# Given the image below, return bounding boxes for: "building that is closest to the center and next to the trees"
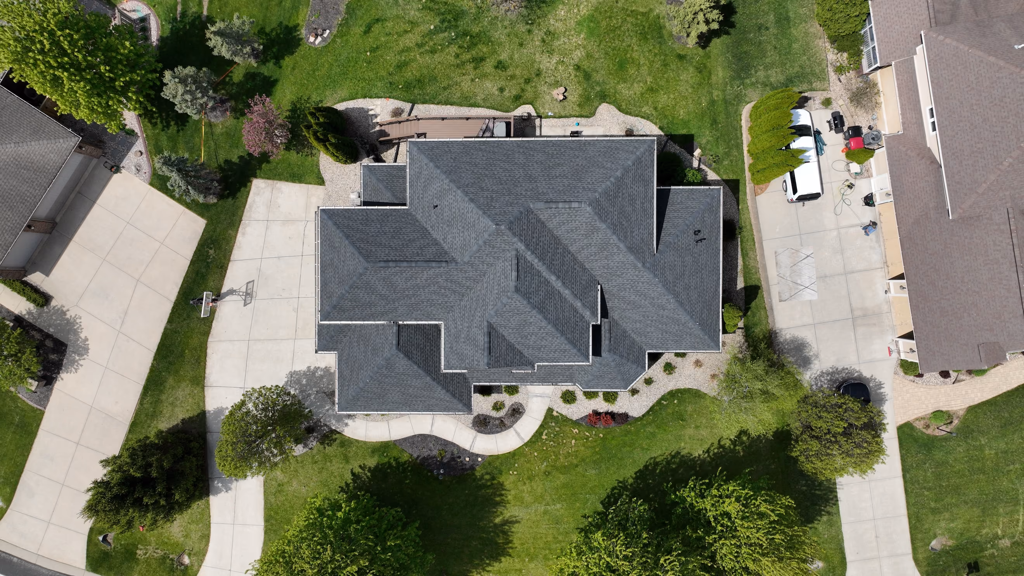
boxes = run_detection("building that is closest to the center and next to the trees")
[313,136,733,416]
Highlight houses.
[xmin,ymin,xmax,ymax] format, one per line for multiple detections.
[313,136,733,416]
[0,86,103,287]
[850,0,1024,374]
